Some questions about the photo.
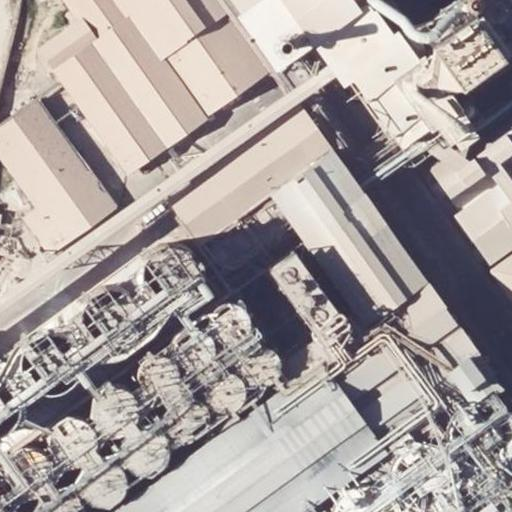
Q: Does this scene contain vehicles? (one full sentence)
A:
Yes, this view includes a vehicle.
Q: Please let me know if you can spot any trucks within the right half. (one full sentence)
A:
No, looking within the right half, there is no truck.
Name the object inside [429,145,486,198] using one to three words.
building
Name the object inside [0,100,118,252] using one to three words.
shed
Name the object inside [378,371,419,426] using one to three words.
building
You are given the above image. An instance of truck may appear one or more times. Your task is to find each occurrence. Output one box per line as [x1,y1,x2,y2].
[140,202,169,226]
